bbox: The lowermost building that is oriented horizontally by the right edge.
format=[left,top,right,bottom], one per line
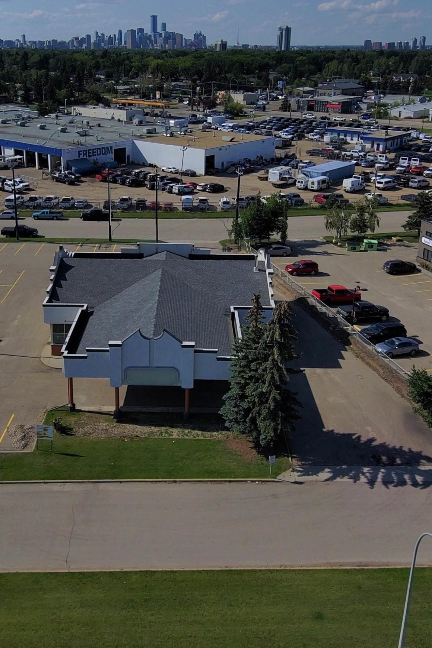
[326,126,415,150]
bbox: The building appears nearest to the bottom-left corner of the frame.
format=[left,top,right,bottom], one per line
[41,240,275,415]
